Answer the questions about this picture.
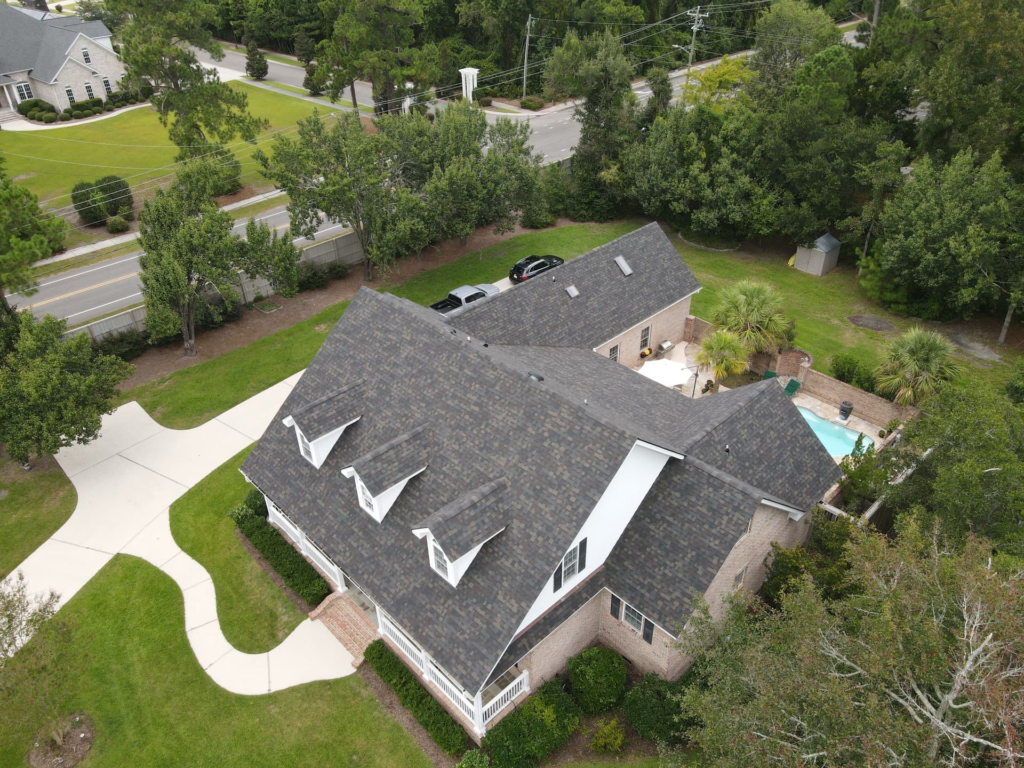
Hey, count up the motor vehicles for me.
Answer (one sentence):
The photo contains 2 motor vehicles.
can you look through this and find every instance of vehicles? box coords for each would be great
[509,255,570,287]
[428,284,506,320]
